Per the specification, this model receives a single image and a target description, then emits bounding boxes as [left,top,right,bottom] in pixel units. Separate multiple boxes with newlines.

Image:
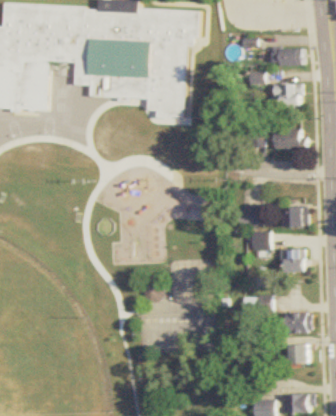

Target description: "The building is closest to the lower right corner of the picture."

[291,394,316,416]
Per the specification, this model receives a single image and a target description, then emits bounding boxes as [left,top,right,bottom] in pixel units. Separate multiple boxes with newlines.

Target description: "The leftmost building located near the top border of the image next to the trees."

[0,0,206,118]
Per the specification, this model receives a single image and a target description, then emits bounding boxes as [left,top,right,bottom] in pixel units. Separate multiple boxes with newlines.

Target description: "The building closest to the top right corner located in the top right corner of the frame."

[272,49,309,66]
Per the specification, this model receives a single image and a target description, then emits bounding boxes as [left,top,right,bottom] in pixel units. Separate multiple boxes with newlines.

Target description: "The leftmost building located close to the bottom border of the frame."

[254,400,279,416]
